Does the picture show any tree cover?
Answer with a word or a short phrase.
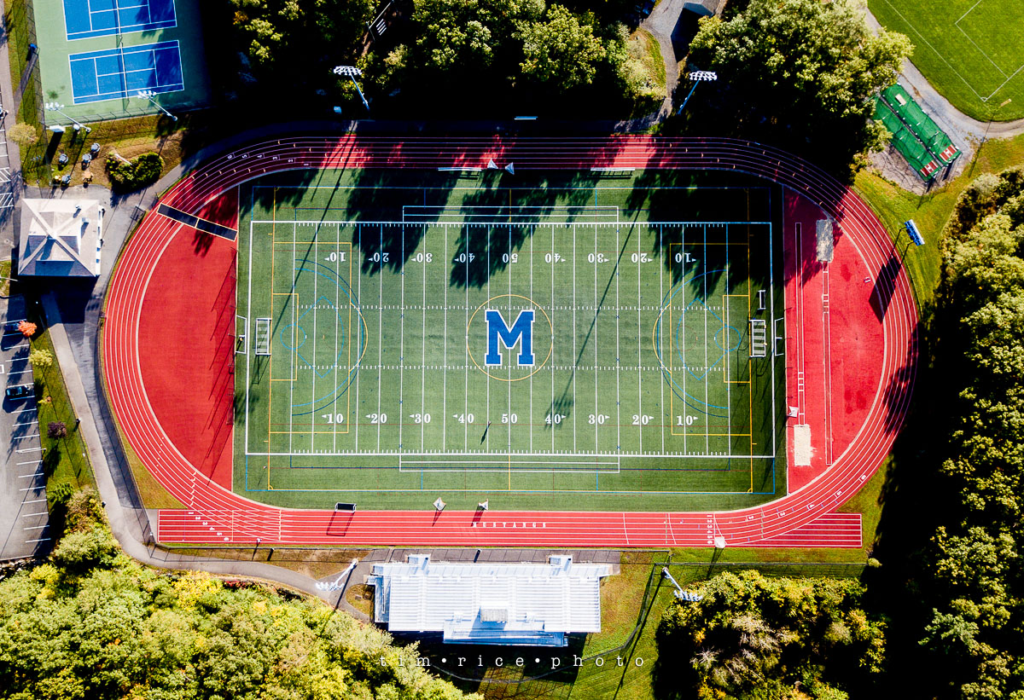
Yes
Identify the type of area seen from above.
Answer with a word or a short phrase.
sports ground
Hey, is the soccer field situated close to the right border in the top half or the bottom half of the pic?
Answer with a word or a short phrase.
top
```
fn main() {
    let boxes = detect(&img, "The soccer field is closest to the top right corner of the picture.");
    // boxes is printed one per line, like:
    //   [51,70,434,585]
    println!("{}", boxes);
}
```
[886,0,1024,101]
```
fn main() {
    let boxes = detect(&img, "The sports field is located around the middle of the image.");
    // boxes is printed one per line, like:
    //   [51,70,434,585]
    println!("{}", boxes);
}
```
[230,170,788,510]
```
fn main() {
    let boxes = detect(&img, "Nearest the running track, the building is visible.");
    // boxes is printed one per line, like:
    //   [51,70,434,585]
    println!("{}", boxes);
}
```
[18,198,102,276]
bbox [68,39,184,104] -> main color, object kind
blue tennis court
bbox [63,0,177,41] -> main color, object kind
blue tennis court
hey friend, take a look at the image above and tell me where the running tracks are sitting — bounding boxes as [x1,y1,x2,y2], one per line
[102,131,924,553]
